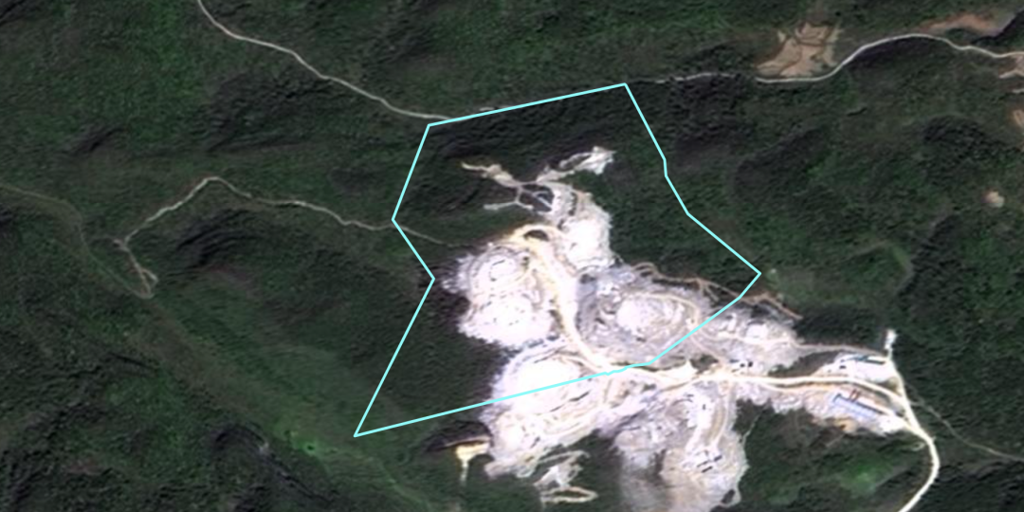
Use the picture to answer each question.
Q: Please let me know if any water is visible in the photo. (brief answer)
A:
No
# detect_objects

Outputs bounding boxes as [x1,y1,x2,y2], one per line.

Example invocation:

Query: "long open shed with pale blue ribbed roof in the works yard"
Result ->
[836,395,880,420]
